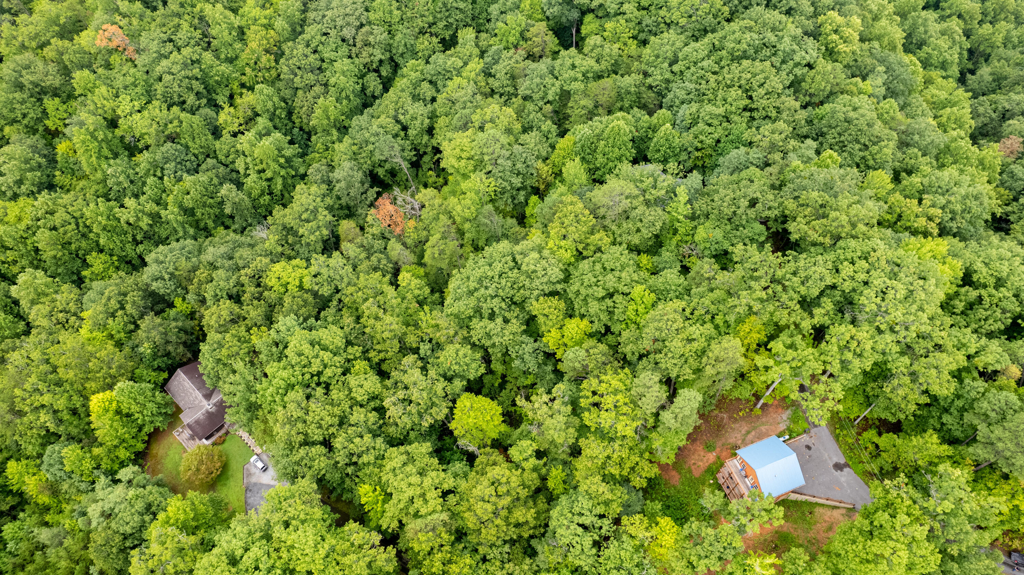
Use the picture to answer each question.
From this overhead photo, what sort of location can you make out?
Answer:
forest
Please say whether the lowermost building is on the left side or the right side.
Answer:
right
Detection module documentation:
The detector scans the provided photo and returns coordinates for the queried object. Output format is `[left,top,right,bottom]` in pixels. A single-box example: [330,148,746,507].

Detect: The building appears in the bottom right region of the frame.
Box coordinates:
[712,435,806,508]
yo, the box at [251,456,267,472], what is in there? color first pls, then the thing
white car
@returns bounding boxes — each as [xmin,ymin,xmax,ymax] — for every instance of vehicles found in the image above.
[251,456,267,472]
[1013,554,1024,565]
